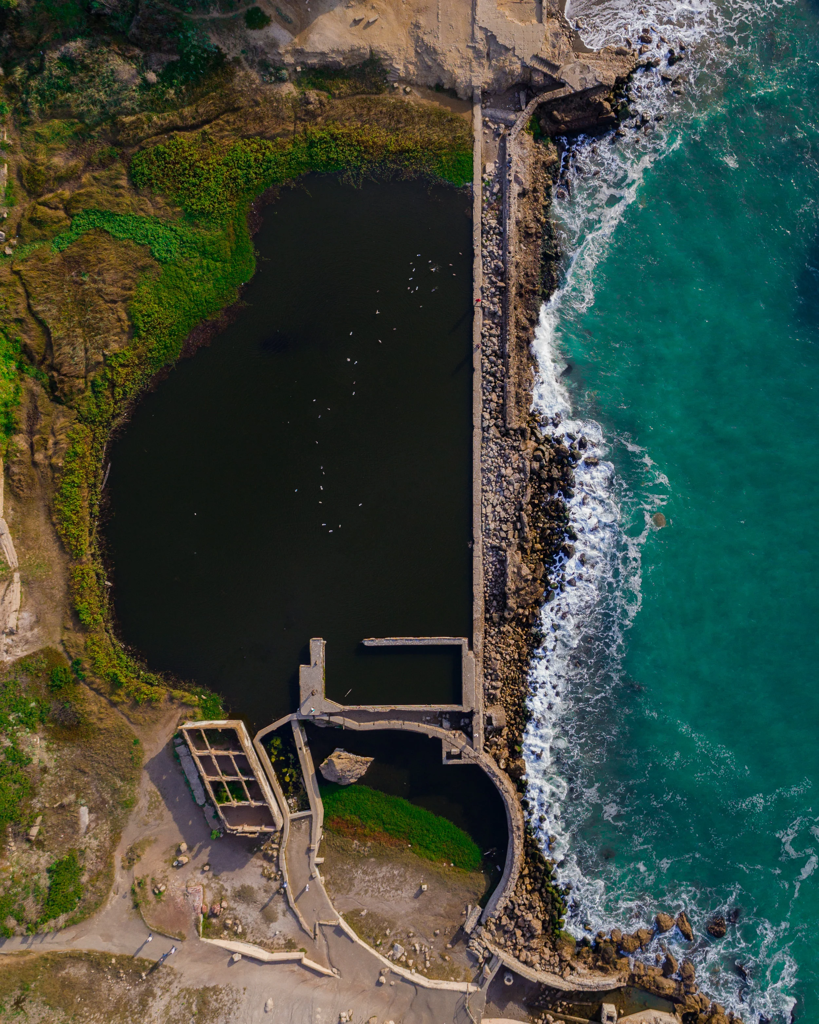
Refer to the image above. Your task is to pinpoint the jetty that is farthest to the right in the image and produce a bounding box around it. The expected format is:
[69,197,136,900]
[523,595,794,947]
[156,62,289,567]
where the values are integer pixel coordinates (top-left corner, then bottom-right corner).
[462,636,475,711]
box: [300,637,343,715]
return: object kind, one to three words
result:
pier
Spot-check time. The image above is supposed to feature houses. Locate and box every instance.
[179,715,283,836]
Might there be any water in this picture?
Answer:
Yes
